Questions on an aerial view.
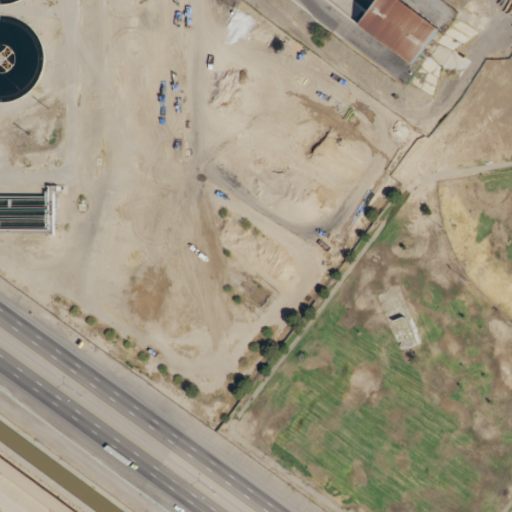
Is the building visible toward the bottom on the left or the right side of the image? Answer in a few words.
right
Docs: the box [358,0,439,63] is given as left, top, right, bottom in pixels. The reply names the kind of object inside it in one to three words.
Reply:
building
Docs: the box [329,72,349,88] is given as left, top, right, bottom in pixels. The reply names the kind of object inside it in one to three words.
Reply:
vehicle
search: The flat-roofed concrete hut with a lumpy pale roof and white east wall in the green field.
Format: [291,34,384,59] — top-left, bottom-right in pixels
[390,316,422,350]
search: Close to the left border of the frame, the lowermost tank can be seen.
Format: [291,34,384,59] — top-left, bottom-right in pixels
[0,16,44,103]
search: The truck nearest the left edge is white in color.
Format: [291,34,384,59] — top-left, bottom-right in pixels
[104,444,142,472]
